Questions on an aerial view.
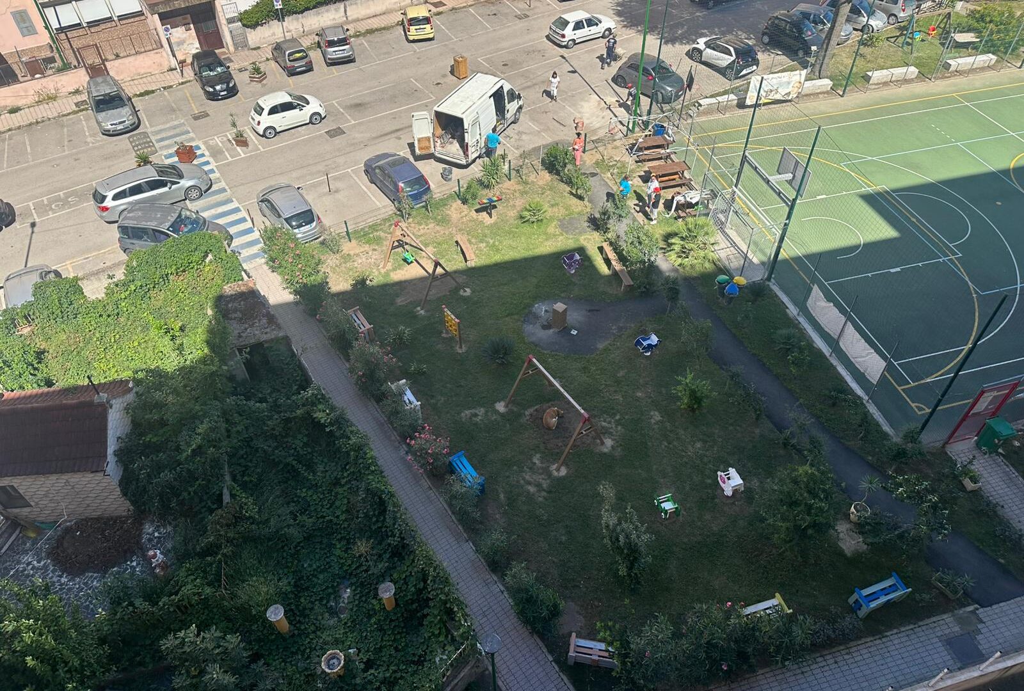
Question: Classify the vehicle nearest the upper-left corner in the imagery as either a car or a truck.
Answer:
car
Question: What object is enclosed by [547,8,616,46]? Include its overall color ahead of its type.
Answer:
white car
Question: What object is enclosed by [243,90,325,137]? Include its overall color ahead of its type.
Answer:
white car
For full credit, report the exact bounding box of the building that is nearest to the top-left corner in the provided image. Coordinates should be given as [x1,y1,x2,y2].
[0,0,158,87]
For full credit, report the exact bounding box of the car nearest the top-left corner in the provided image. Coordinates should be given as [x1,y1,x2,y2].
[86,71,138,135]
